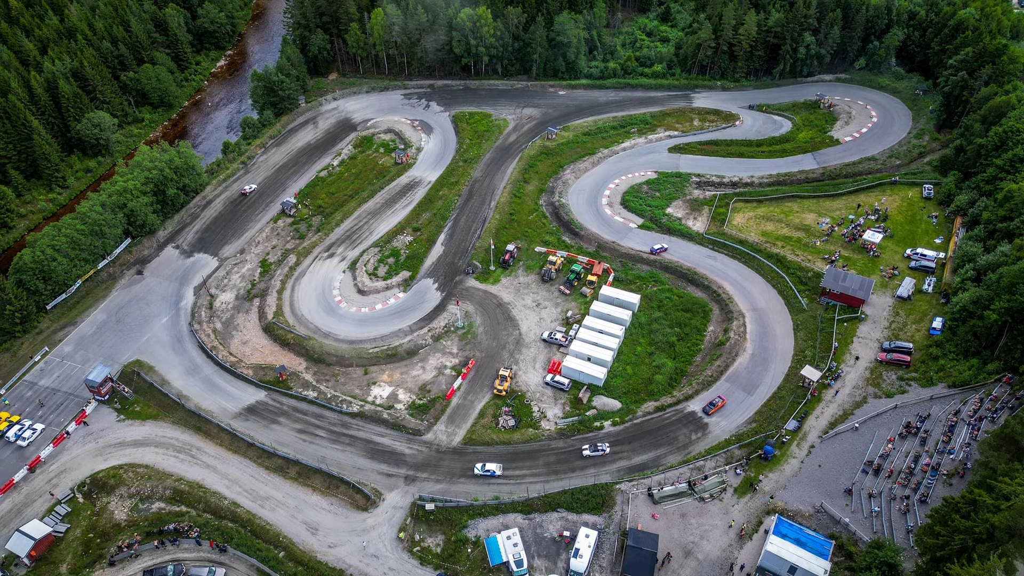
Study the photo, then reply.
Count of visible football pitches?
zero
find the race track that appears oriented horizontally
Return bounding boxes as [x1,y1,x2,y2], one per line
[0,82,912,500]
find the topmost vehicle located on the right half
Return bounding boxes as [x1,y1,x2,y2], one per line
[922,182,936,198]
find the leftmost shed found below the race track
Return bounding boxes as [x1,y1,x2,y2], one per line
[6,519,58,565]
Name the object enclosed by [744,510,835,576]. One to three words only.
building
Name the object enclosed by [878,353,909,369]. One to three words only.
car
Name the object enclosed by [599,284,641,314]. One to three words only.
building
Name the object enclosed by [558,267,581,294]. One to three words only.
work vehicle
